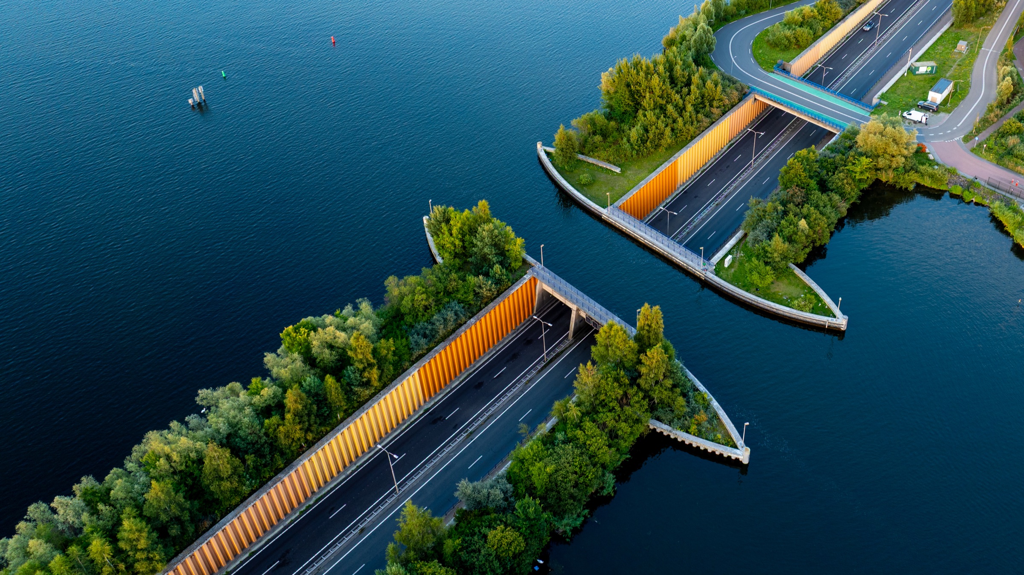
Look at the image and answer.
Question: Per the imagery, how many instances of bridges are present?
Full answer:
In total, there are 2 bridges in the scene.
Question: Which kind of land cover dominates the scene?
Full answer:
For the most part, this view shows water.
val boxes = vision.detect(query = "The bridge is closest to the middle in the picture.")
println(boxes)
[532,214,705,344]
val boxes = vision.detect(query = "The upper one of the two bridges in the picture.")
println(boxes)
[749,71,875,133]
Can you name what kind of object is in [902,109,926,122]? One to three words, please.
vehicle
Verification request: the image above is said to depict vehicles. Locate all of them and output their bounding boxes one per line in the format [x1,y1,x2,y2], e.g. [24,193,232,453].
[902,109,926,122]
[916,101,939,112]
[864,21,875,30]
